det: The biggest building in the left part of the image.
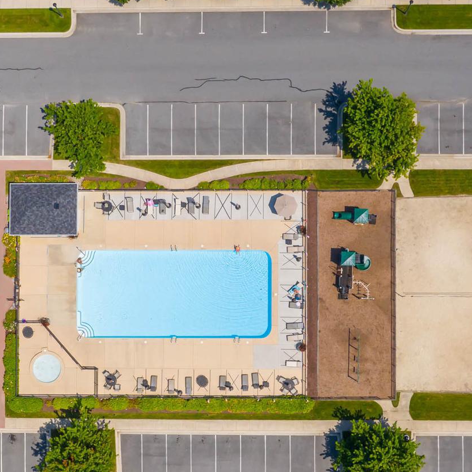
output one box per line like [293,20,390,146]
[9,183,81,237]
